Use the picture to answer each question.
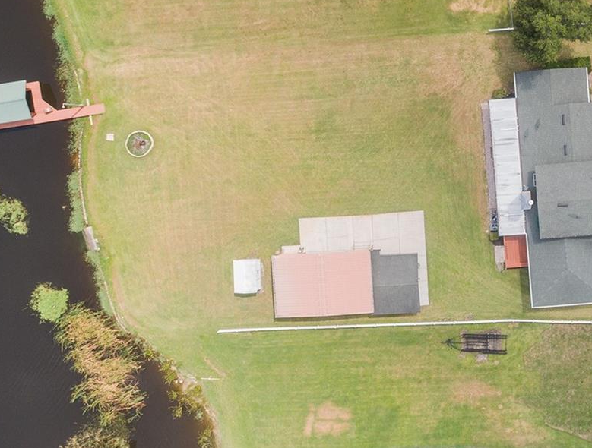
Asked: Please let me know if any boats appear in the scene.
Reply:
No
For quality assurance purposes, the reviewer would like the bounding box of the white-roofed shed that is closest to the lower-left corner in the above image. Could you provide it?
[234,258,267,295]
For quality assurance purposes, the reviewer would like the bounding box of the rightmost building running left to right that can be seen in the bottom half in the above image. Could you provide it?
[272,250,421,320]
